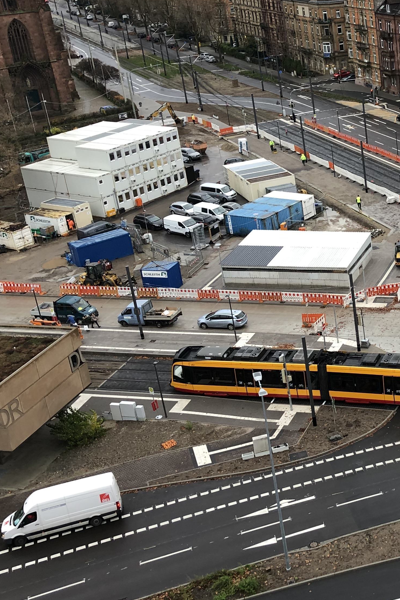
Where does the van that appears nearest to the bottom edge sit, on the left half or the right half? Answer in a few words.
left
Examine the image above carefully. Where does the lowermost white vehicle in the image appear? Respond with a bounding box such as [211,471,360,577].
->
[0,470,124,548]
